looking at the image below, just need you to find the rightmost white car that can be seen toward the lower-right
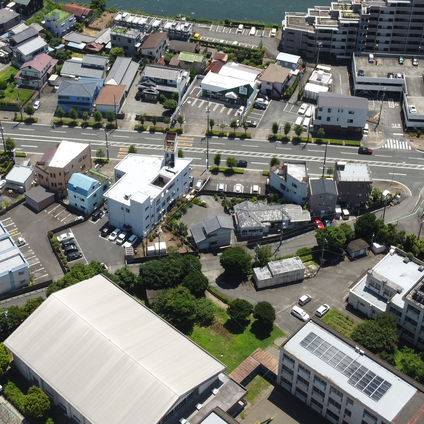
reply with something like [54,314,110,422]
[314,303,332,318]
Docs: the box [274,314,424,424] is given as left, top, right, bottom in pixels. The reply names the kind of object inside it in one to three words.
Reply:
building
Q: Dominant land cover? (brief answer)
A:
buildings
